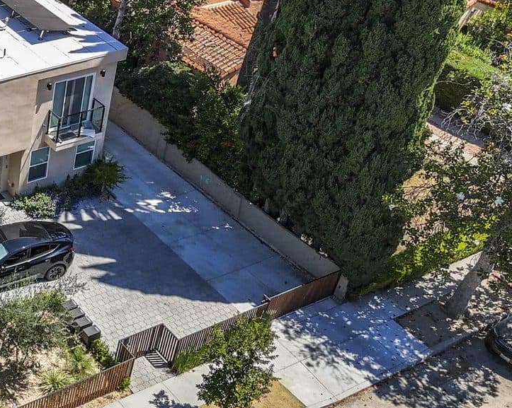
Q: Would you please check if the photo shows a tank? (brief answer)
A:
No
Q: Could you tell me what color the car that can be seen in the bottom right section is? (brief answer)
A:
black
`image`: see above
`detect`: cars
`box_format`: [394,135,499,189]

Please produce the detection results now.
[0,221,75,292]
[471,308,512,376]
